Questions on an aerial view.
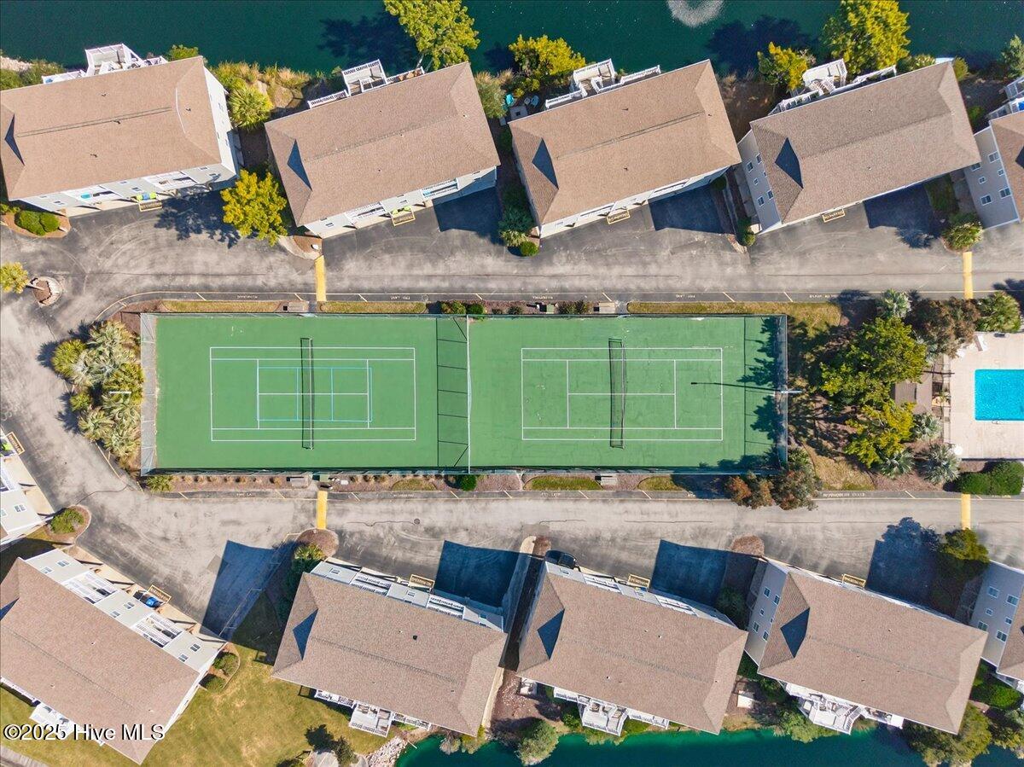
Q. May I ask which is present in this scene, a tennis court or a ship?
tennis court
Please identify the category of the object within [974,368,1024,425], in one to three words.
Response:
swimming pool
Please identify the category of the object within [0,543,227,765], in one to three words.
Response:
building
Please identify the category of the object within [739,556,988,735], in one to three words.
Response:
building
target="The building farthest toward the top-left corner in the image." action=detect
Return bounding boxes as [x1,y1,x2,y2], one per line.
[0,46,249,216]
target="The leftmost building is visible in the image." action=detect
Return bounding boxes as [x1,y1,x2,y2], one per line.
[0,433,57,550]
